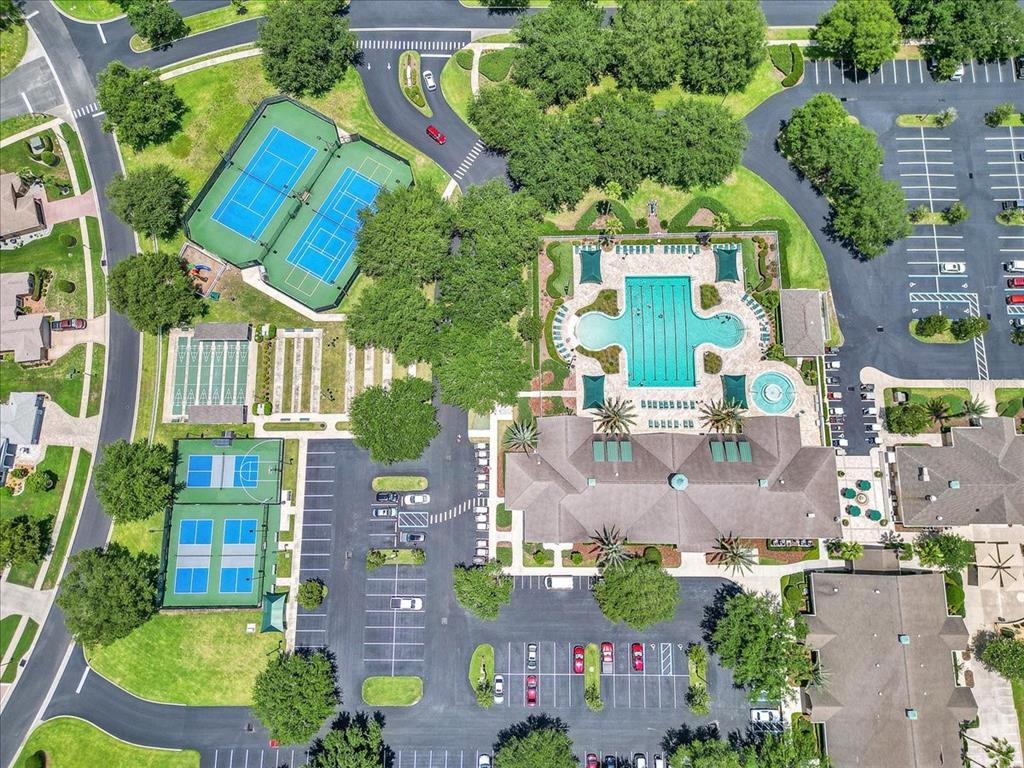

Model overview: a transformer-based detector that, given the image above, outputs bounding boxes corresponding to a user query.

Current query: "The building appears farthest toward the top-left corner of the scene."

[0,172,46,242]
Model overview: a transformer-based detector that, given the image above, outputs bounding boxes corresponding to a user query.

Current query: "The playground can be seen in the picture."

[177,241,227,298]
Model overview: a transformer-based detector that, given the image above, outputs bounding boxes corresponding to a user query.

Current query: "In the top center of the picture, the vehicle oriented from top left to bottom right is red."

[425,123,447,145]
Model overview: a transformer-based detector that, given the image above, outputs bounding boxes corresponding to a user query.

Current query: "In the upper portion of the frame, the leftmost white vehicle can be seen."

[422,70,438,92]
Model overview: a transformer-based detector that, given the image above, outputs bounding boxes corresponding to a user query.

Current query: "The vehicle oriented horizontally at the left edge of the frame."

[51,318,87,331]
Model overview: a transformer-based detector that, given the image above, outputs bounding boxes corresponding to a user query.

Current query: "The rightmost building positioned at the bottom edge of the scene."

[802,572,980,768]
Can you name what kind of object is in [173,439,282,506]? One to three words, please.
sports court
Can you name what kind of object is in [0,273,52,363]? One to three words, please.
house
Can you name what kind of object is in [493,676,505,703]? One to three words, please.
vehicle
